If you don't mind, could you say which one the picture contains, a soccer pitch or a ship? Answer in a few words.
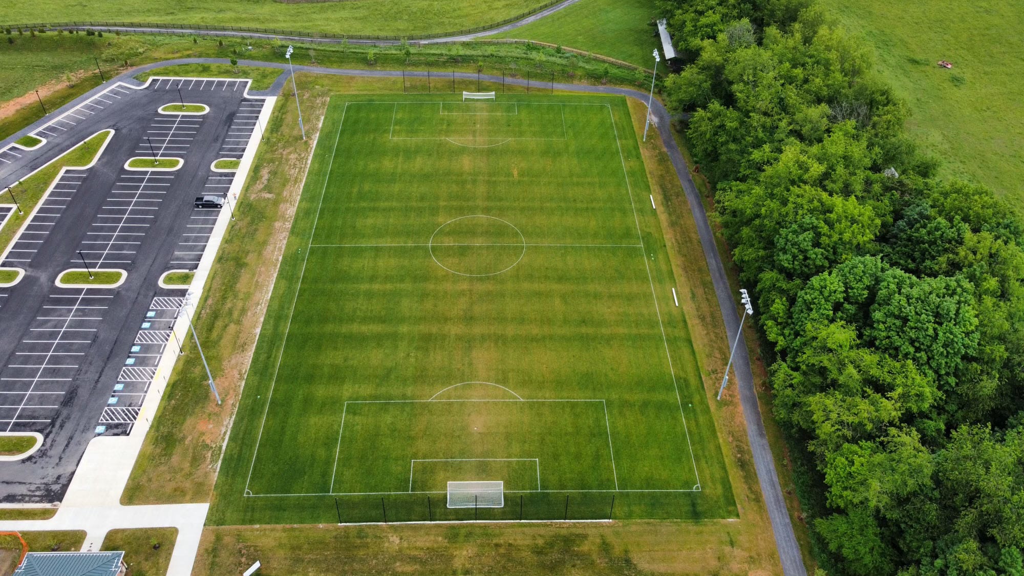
soccer pitch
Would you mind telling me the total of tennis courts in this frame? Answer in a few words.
zero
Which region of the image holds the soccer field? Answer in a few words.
center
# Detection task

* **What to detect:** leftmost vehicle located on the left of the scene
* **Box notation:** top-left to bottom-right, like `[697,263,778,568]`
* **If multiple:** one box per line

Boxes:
[193,195,226,207]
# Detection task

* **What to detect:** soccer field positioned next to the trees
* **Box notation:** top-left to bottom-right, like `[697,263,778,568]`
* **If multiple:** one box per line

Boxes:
[204,94,739,525]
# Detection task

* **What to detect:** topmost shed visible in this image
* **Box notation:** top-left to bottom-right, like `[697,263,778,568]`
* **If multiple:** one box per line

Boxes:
[659,19,679,64]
